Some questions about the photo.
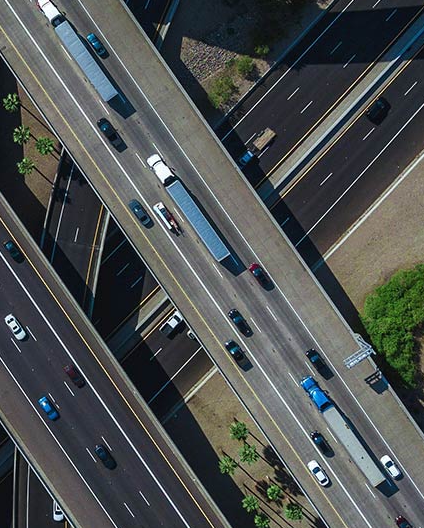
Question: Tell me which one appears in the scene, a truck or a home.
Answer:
truck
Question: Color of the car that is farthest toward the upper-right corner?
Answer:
black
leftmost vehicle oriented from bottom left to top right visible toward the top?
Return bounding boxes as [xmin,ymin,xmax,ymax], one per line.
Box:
[239,128,276,165]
